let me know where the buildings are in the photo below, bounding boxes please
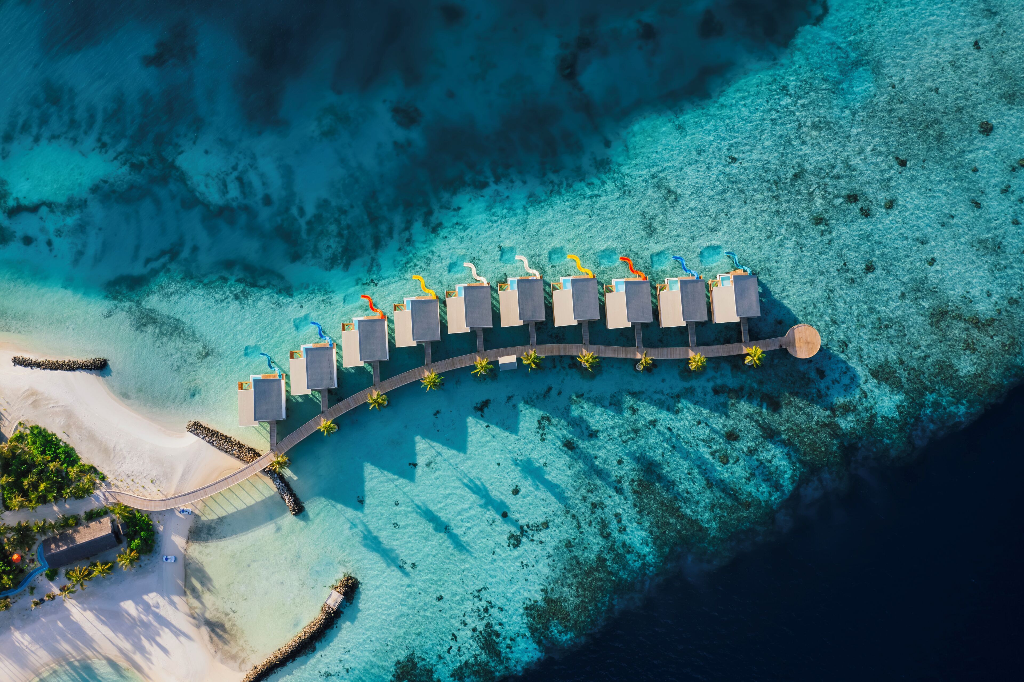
[42,518,124,568]
[603,257,653,329]
[237,352,289,427]
[657,256,708,328]
[551,255,600,327]
[709,251,761,323]
[340,294,391,367]
[444,262,493,334]
[392,275,441,347]
[497,255,546,327]
[288,321,340,395]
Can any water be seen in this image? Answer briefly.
Yes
